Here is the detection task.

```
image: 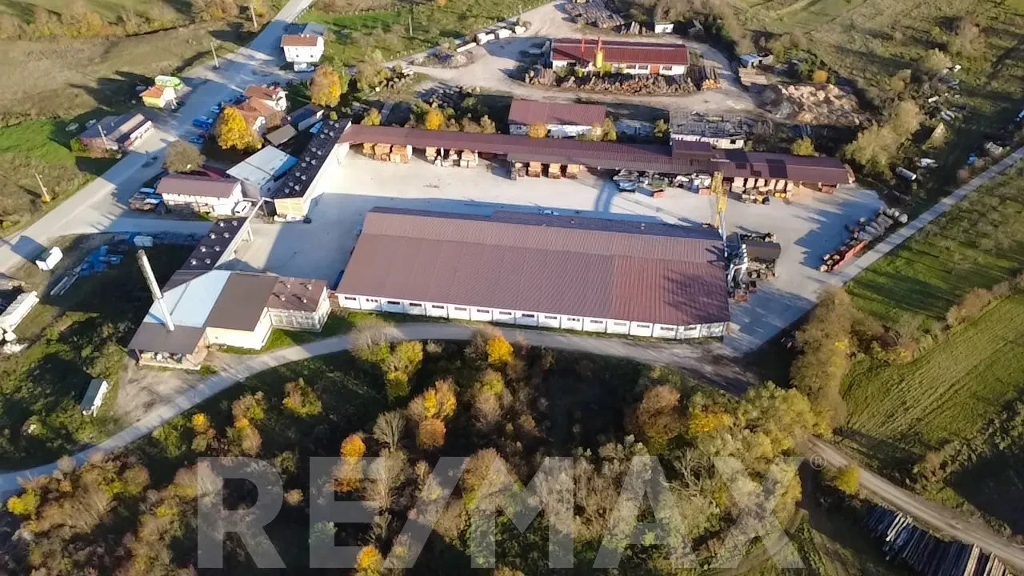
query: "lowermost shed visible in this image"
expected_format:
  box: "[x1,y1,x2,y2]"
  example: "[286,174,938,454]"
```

[78,380,108,417]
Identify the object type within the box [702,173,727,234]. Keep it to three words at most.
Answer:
container crane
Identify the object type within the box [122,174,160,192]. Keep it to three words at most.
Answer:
vehicle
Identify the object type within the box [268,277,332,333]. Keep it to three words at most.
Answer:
building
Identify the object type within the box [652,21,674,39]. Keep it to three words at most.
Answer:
shed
